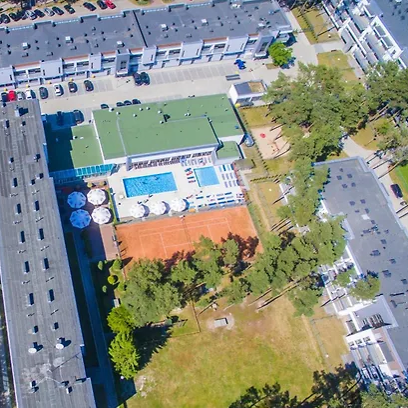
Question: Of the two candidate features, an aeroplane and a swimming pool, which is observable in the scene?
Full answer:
There is a swimming pool in the scene.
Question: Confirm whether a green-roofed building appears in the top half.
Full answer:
Yes, a green-roofed building can be seen in the top half.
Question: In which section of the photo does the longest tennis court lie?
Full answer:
The longest tennis court is located in the center region of the scene.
